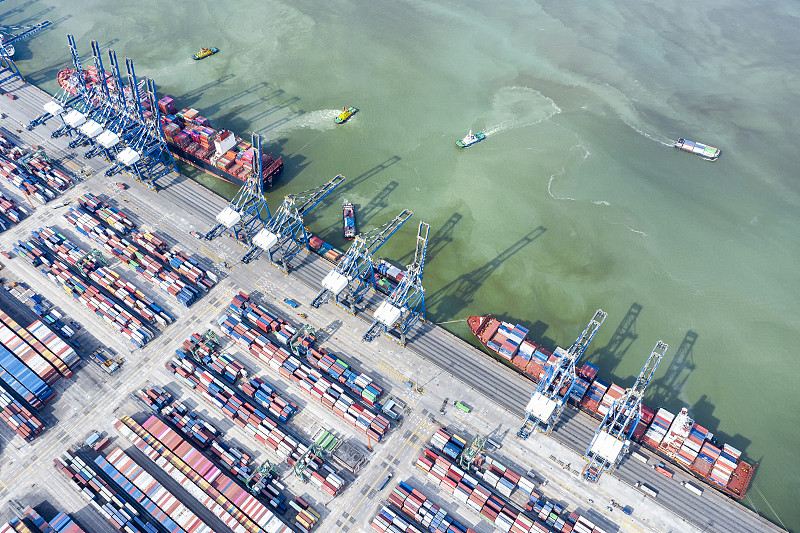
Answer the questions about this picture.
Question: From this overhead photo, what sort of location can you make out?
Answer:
port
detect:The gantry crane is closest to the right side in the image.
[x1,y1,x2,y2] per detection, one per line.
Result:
[579,337,671,486]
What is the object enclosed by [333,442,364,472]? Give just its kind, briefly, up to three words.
building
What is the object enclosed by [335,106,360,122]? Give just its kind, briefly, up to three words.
boat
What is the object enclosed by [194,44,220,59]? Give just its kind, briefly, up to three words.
boat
